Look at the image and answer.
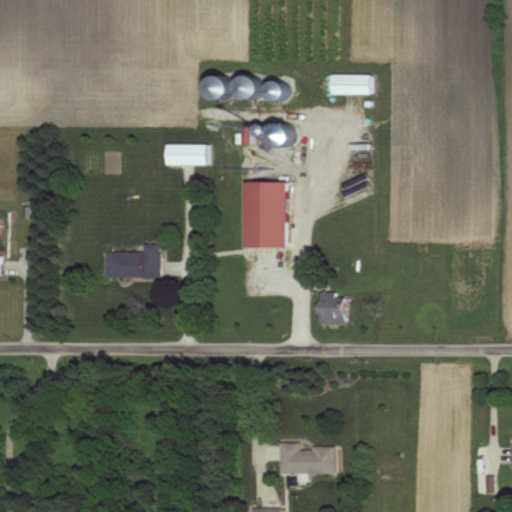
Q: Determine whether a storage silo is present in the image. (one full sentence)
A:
Yes, a storage silo is visible in the scene.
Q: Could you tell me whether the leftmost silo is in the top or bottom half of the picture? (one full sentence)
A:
The leftmost silo is in the top half of the image.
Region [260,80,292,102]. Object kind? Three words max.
silo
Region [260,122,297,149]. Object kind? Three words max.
silo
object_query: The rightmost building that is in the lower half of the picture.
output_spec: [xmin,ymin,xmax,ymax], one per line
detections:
[316,292,350,324]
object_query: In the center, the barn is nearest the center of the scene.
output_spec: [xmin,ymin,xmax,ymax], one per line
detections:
[243,181,288,248]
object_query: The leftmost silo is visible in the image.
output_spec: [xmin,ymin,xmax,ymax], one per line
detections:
[198,75,232,102]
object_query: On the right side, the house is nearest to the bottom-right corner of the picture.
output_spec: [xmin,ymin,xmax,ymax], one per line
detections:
[280,444,338,474]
